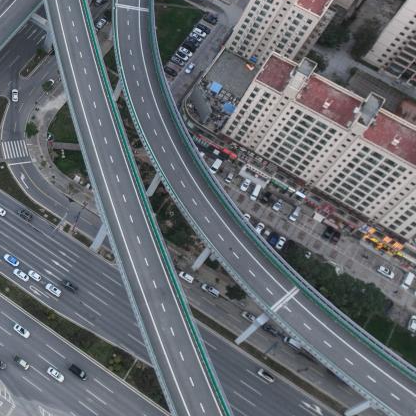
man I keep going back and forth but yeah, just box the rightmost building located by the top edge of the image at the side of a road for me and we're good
[362,0,416,82]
